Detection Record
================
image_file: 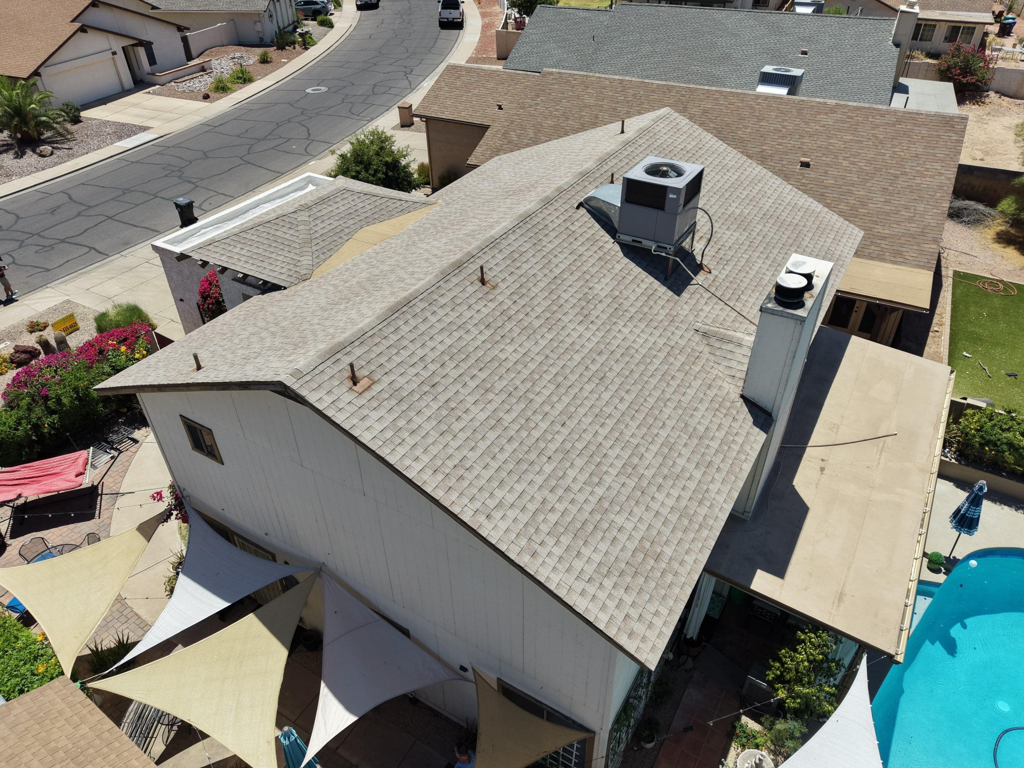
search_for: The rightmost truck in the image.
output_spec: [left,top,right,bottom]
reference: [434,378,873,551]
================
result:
[438,0,464,28]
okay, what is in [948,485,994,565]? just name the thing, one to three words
umbrella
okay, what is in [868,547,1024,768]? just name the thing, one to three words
swimming pool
